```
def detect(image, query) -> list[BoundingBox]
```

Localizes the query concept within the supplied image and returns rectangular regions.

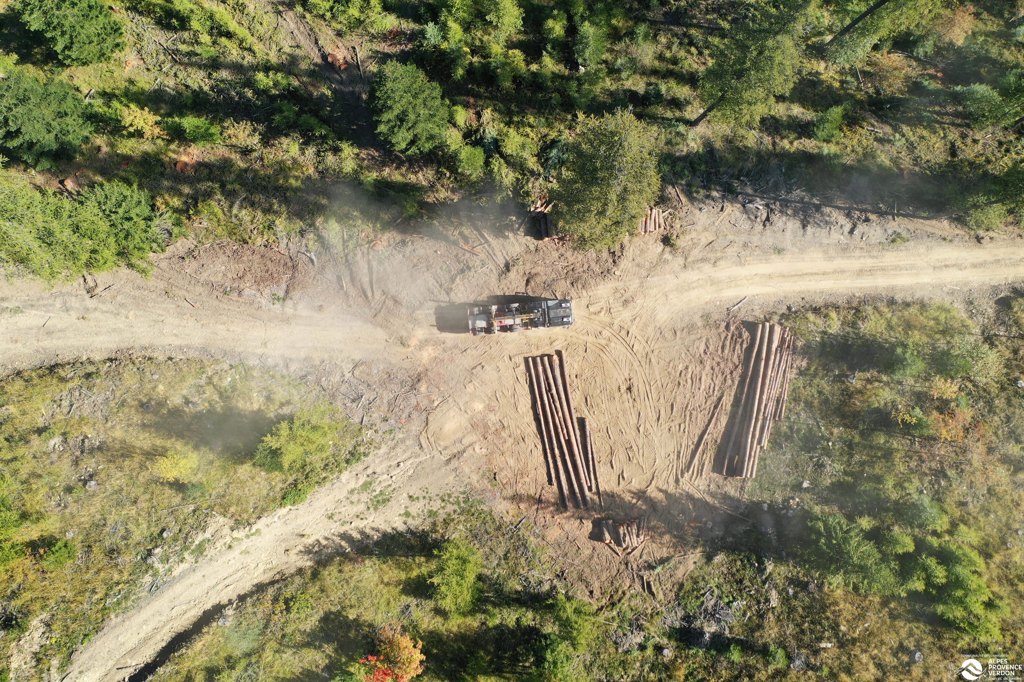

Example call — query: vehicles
[469,295,576,335]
